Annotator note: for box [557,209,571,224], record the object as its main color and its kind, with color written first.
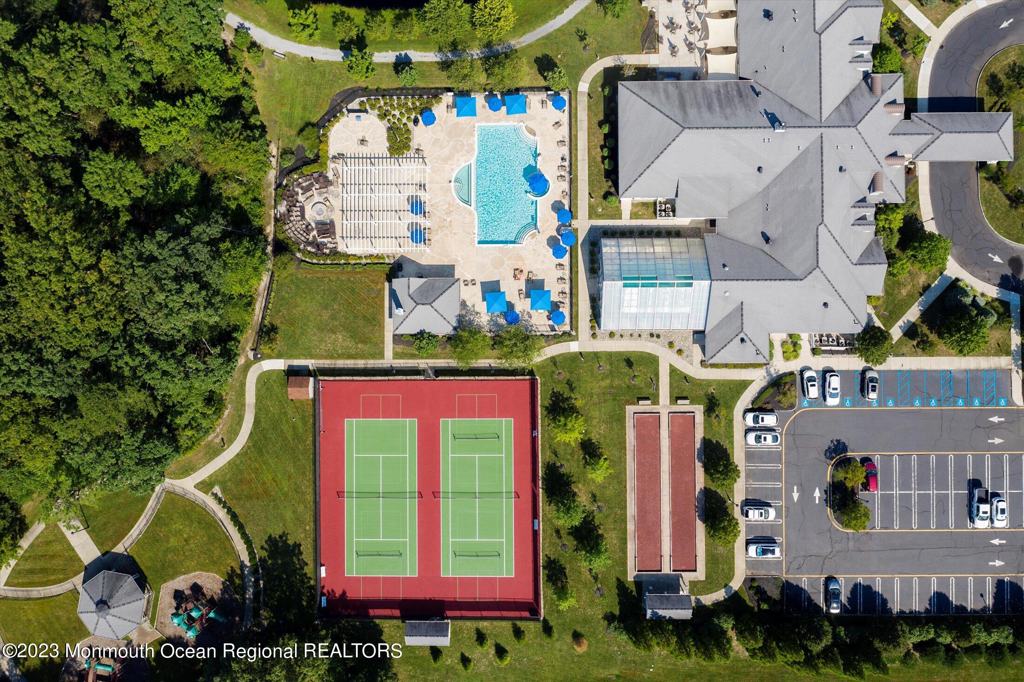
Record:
blue umbrella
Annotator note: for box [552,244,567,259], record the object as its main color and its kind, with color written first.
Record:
blue umbrella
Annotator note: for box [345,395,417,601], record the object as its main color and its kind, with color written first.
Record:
green tennis court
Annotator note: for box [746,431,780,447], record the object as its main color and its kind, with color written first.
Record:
white car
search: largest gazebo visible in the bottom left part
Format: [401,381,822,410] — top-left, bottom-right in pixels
[77,566,154,641]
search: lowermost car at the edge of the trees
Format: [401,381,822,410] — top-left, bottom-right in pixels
[826,578,843,611]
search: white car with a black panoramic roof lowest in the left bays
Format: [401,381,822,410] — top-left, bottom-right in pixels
[748,544,781,560]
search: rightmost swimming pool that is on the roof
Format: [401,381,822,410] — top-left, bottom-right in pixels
[624,276,691,288]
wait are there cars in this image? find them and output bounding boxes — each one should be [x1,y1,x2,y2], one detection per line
[748,544,781,560]
[826,578,843,611]
[744,412,778,428]
[743,506,775,522]
[863,371,881,400]
[863,462,881,492]
[990,497,1008,528]
[803,370,820,400]
[746,431,780,447]
[825,373,842,405]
